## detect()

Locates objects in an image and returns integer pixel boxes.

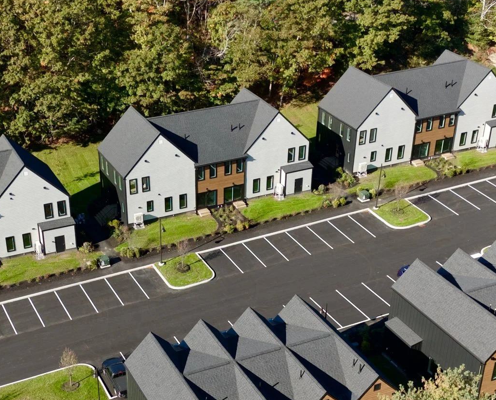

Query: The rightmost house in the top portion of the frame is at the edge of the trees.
[315,51,496,173]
